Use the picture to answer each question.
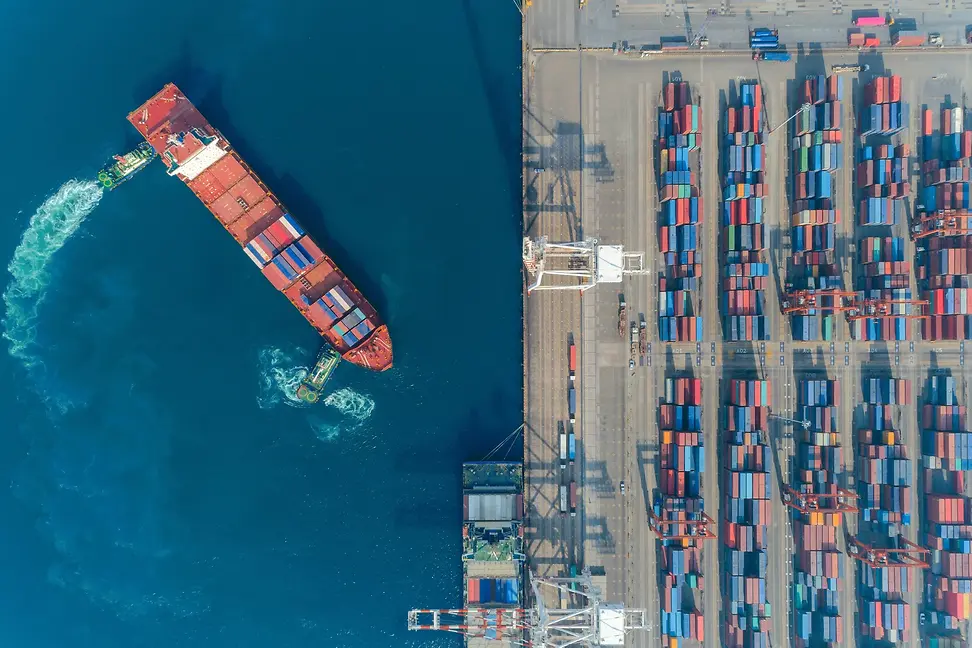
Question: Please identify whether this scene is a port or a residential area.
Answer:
port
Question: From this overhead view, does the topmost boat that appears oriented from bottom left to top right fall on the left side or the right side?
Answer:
left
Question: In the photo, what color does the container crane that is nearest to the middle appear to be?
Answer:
white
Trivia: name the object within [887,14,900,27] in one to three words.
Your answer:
vehicle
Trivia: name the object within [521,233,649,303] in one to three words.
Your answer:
container crane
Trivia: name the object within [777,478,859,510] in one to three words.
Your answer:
container crane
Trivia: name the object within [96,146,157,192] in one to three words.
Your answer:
boat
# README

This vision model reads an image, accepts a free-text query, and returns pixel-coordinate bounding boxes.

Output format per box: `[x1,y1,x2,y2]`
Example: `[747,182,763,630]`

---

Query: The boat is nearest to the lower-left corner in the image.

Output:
[298,343,340,404]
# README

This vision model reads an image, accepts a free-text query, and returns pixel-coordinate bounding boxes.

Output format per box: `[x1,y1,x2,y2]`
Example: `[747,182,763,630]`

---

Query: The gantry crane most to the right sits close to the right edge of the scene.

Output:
[909,213,972,242]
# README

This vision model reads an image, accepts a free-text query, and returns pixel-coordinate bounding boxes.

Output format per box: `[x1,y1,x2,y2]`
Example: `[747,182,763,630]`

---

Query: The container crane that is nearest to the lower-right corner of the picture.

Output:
[844,528,929,566]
